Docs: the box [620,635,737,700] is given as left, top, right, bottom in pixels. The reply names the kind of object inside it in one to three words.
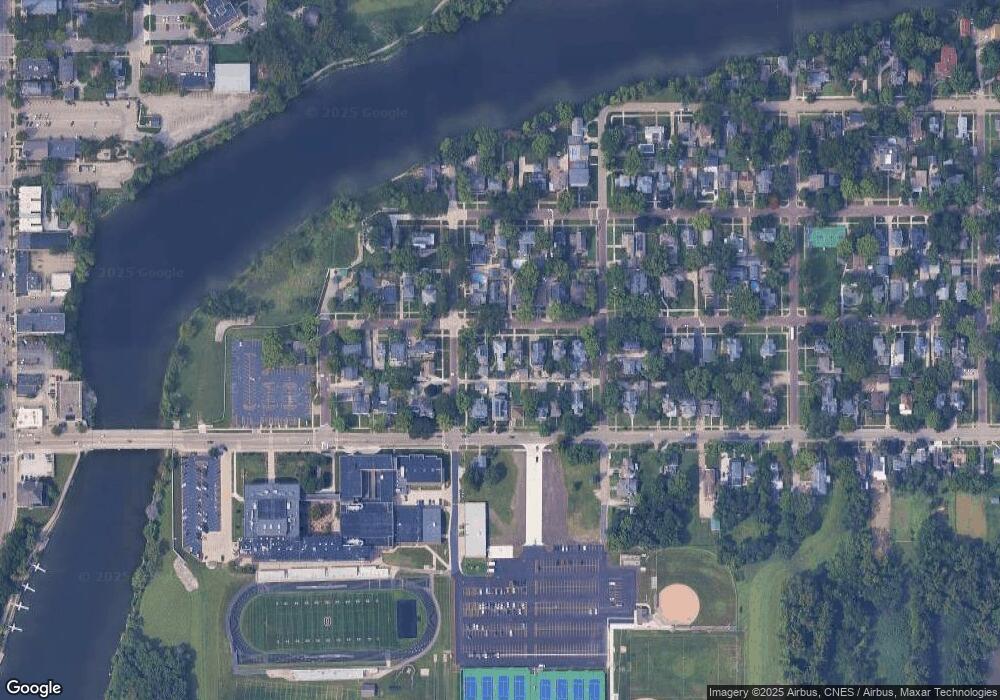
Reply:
soccer field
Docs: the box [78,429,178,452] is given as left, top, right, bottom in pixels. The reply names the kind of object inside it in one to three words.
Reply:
bridge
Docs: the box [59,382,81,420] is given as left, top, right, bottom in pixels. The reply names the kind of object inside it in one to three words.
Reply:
building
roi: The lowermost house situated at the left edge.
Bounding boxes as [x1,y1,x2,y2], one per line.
[16,478,48,508]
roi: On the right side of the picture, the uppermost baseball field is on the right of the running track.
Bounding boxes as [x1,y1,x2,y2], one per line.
[650,548,737,628]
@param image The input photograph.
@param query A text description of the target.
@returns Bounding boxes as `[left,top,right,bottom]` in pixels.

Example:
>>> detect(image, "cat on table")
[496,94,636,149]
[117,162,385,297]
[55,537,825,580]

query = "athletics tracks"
[228,577,438,674]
